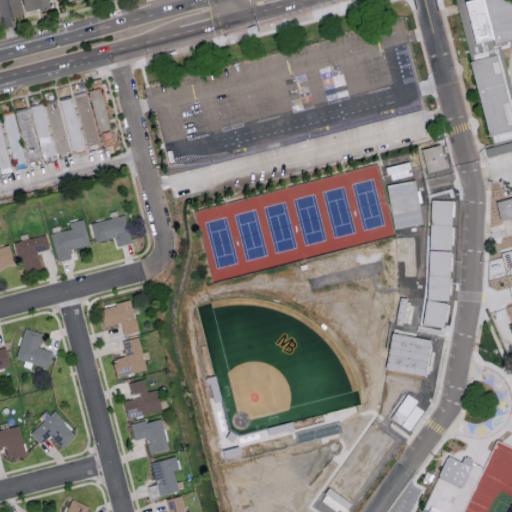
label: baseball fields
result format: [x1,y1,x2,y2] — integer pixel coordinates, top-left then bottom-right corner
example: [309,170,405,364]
[198,299,360,434]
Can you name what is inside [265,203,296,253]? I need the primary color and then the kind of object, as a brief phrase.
blue tennis court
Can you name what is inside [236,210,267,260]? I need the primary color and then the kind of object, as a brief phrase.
blue tennis court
